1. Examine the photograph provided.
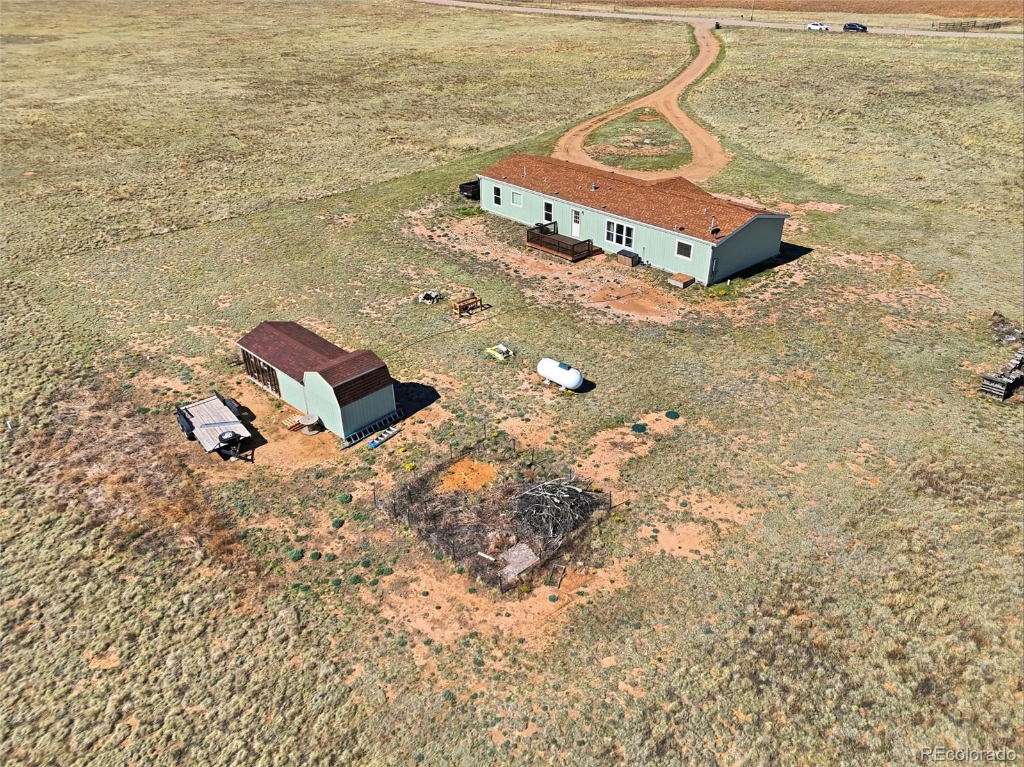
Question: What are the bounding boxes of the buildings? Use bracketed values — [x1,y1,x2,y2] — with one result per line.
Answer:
[473,153,791,285]
[235,320,397,437]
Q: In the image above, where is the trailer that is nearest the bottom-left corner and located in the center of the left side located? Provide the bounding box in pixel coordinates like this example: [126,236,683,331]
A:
[174,386,252,465]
